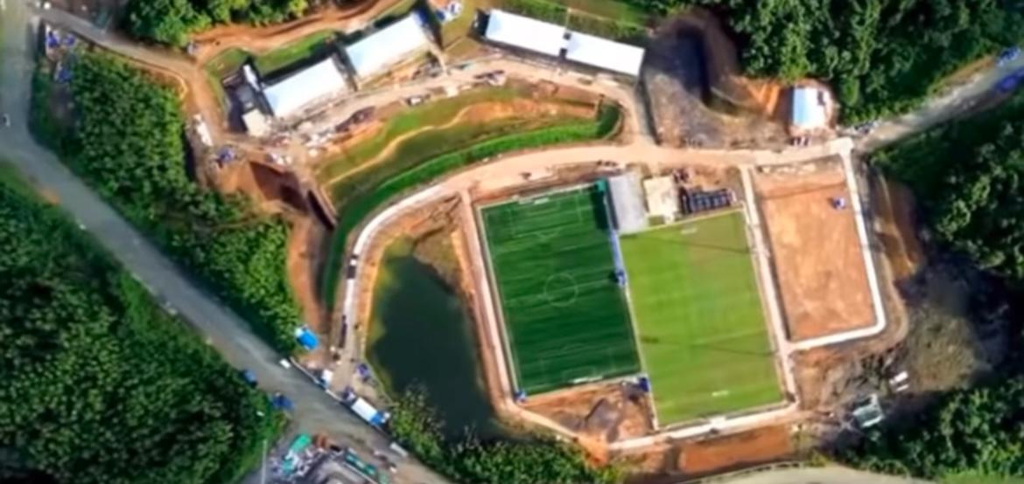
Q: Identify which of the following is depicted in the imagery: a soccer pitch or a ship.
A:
soccer pitch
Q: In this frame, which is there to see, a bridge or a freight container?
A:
freight container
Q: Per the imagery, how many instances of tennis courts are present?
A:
zero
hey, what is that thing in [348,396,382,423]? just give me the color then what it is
white truck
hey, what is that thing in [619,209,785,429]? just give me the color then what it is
green soccer field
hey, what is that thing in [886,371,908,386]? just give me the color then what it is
white vehicle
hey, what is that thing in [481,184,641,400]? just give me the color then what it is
green soccer field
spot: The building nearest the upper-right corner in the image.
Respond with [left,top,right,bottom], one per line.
[793,85,827,125]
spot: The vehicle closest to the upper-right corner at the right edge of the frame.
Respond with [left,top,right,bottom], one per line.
[1001,47,1022,63]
